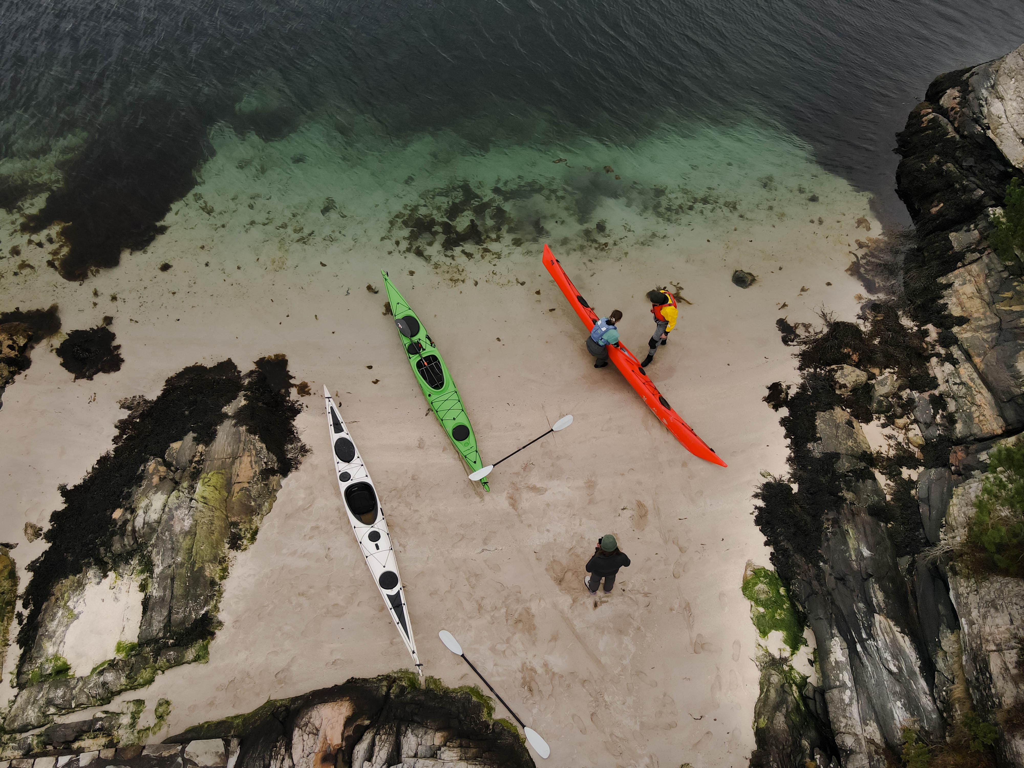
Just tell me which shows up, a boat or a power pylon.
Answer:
boat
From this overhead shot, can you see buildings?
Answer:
No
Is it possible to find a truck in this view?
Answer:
No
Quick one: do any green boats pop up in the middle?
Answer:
Yes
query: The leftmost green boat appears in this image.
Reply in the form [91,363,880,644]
[382,273,487,490]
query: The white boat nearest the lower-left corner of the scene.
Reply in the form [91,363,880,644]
[325,387,421,673]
